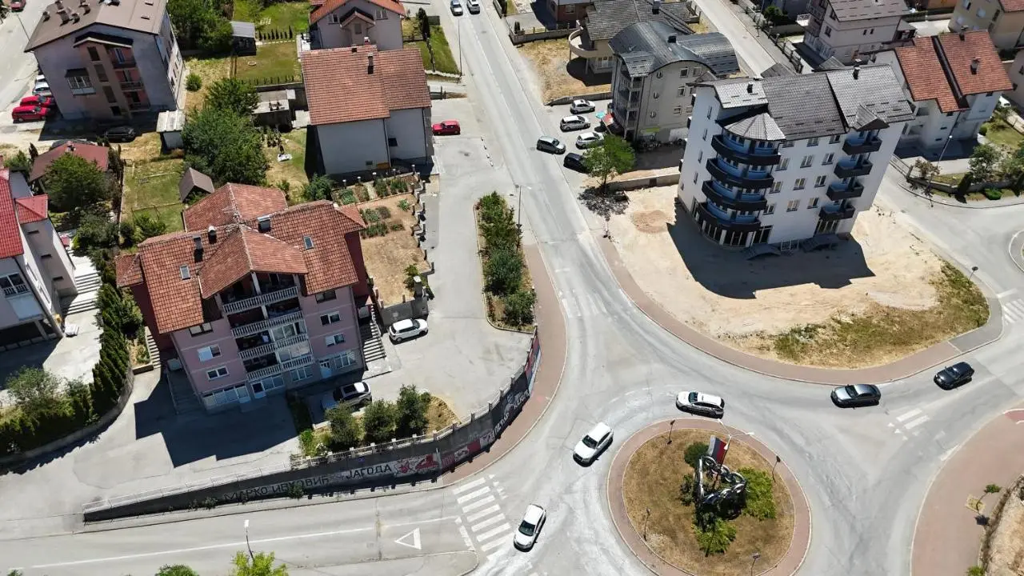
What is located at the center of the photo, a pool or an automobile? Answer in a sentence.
There is an automobile at the center of the photo.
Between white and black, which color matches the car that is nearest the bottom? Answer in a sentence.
The color of the car that is nearest the bottom is white.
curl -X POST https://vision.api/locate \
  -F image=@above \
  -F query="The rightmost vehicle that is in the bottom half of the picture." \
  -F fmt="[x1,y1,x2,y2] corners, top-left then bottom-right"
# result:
[931,360,981,391]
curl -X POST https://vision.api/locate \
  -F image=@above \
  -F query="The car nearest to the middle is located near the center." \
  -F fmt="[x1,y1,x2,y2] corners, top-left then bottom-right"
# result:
[385,316,431,343]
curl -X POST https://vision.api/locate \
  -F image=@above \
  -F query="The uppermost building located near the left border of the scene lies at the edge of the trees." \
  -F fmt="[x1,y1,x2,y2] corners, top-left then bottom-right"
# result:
[24,0,189,119]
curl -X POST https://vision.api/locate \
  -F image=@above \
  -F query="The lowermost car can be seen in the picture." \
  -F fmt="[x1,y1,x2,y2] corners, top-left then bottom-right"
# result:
[512,500,549,552]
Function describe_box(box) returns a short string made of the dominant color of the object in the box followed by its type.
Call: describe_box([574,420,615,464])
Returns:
white car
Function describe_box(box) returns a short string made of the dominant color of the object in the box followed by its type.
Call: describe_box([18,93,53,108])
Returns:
red car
